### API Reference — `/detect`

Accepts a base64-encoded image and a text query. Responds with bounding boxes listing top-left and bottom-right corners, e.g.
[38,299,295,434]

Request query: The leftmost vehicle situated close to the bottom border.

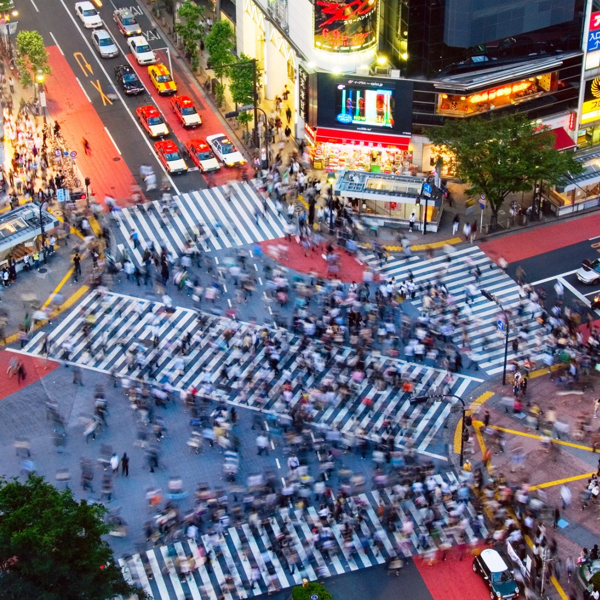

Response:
[471,542,522,599]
